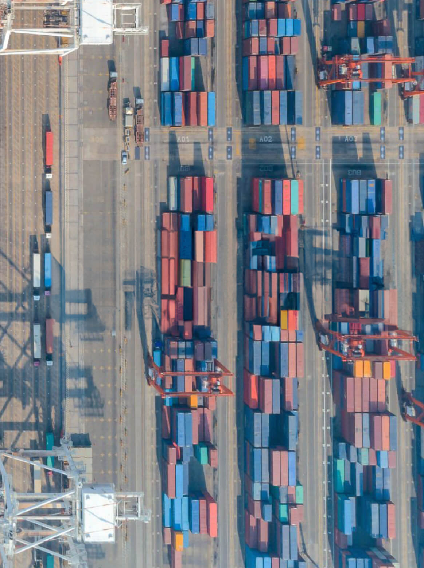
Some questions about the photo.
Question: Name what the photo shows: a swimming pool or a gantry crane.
gantry crane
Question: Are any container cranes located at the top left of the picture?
Yes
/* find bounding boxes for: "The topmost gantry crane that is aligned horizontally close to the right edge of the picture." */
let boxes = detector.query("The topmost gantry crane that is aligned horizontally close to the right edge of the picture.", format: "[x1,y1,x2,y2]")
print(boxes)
[319,53,415,90]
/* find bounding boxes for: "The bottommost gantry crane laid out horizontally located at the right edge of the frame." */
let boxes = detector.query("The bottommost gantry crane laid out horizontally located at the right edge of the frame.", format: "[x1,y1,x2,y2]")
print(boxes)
[320,317,418,363]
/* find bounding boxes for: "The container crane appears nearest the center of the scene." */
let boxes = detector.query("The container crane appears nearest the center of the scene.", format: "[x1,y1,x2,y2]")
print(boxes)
[149,352,237,398]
